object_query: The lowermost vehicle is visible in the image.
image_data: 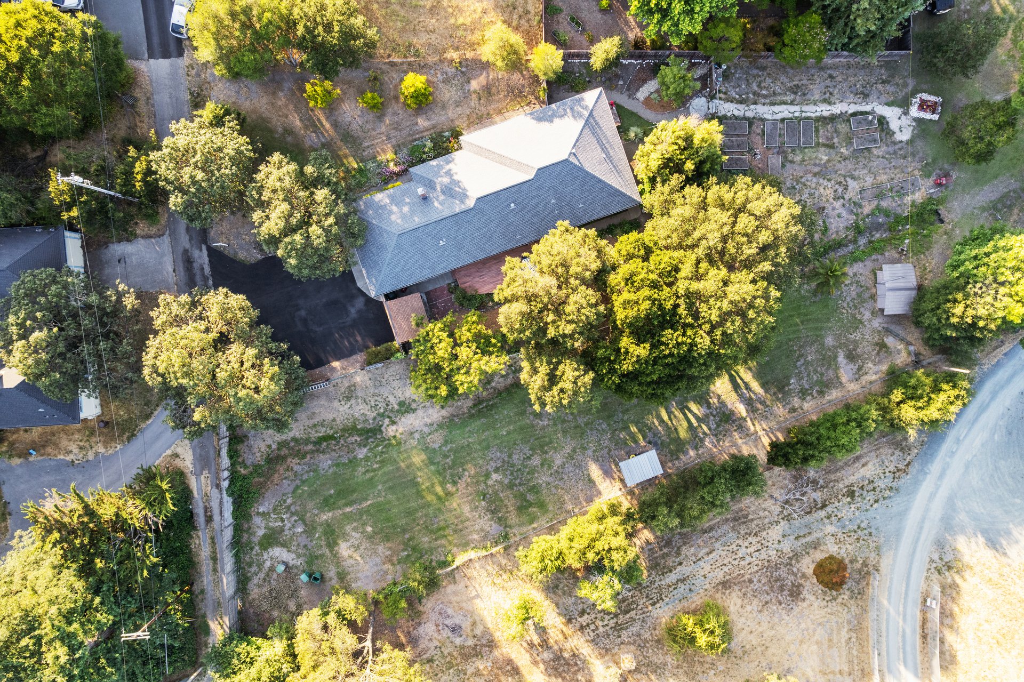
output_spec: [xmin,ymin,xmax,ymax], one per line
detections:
[935,174,958,187]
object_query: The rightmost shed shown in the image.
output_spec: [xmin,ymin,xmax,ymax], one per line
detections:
[877,263,925,315]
